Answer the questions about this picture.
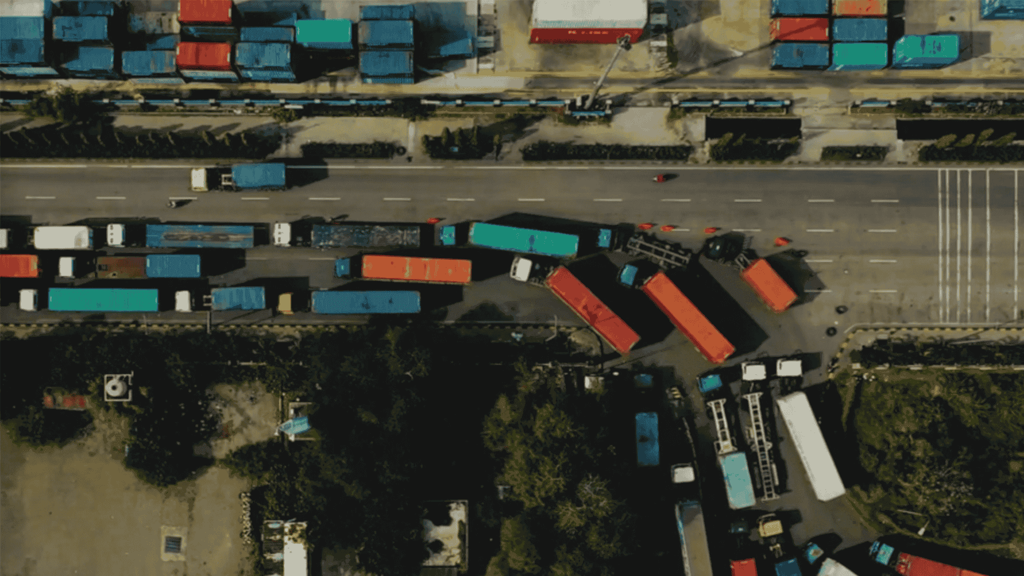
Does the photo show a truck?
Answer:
Yes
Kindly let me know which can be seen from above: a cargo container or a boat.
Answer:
cargo container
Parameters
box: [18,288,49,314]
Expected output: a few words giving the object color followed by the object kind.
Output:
white truck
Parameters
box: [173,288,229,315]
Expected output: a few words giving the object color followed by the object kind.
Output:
white truck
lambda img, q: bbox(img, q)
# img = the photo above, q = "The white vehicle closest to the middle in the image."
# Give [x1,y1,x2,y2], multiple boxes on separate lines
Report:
[506,255,622,356]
